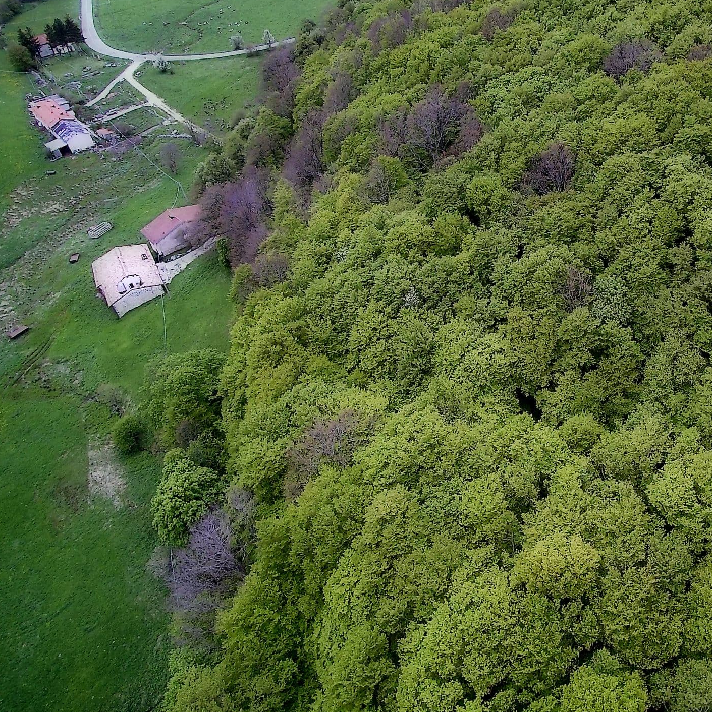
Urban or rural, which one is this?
rural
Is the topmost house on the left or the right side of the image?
left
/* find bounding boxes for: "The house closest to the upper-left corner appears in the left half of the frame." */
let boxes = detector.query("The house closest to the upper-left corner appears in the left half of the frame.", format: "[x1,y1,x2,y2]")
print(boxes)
[30,34,91,59]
